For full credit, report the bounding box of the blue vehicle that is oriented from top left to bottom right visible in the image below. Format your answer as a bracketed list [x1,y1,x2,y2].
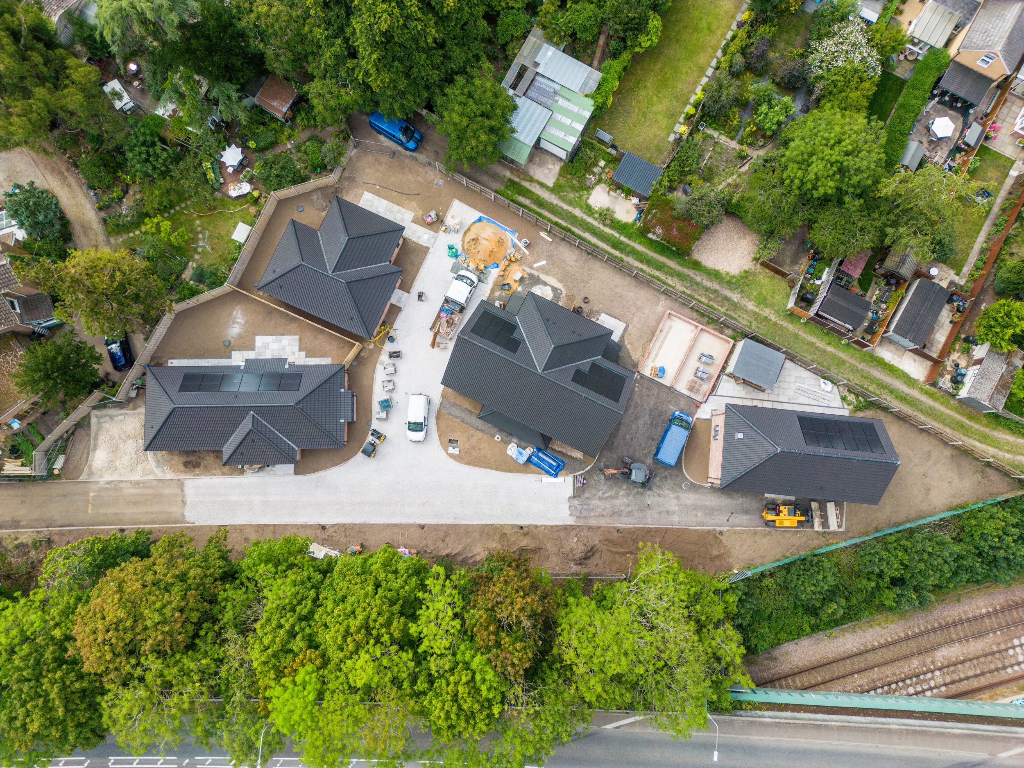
[368,109,424,157]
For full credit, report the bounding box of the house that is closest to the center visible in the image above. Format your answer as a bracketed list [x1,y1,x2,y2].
[441,290,636,459]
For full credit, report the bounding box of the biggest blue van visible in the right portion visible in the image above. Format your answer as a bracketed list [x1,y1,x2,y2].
[651,410,689,469]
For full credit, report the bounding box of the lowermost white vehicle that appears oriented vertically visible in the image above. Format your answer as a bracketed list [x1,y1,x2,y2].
[405,392,431,443]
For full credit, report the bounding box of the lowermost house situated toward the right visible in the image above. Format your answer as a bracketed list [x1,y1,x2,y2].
[708,403,901,506]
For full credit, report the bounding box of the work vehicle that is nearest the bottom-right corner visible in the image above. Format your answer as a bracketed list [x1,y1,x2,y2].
[760,503,815,531]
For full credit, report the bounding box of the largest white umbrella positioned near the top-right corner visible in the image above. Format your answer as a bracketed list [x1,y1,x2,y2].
[926,117,954,141]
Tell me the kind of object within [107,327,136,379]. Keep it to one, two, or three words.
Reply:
car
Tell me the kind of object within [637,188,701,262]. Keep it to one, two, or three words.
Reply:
shed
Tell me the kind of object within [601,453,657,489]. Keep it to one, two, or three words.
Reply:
work vehicle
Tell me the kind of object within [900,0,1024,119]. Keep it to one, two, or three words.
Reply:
house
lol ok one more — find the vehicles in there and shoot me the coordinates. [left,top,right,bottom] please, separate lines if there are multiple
[360,425,394,463]
[601,453,657,489]
[427,277,474,345]
[405,392,431,443]
[368,109,424,157]
[760,503,815,531]
[651,410,689,469]
[107,327,136,379]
